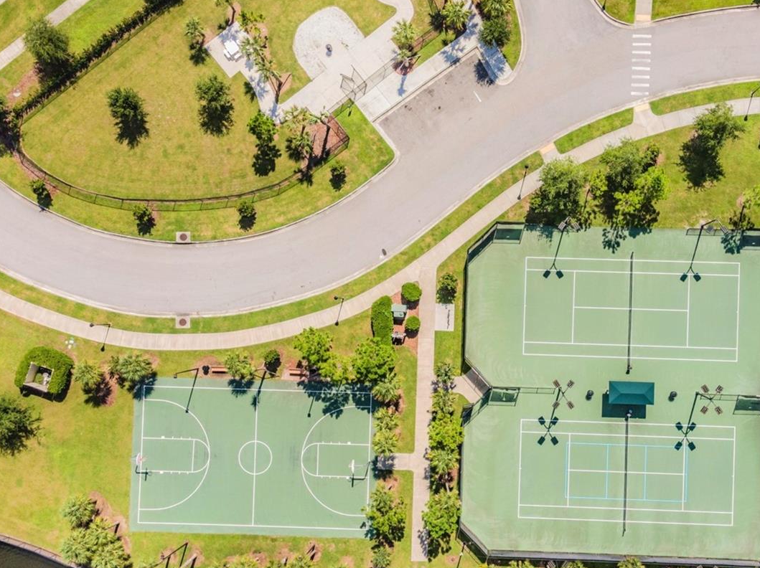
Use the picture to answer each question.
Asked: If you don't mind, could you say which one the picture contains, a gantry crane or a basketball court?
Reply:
basketball court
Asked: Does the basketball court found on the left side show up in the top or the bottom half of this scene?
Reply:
bottom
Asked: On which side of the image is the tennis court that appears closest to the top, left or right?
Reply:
right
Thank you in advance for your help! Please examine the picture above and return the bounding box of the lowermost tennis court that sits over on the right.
[461,390,760,561]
